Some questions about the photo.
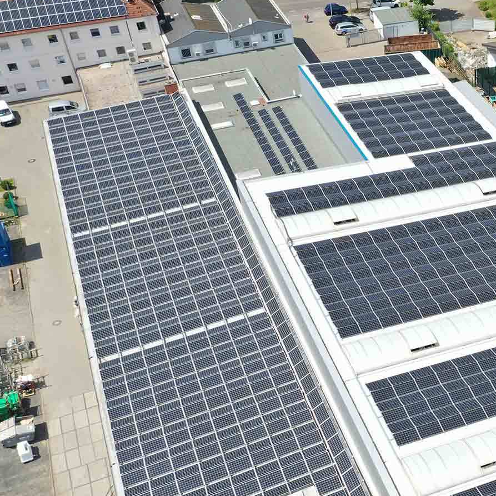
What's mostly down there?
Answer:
buildings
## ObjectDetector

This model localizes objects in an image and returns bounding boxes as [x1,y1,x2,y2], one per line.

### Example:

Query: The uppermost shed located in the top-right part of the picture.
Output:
[372,2,419,39]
